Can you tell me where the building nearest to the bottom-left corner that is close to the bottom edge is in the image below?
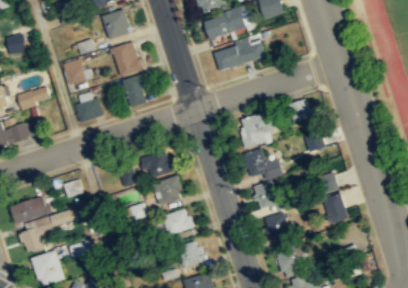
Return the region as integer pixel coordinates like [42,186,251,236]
[31,250,67,284]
